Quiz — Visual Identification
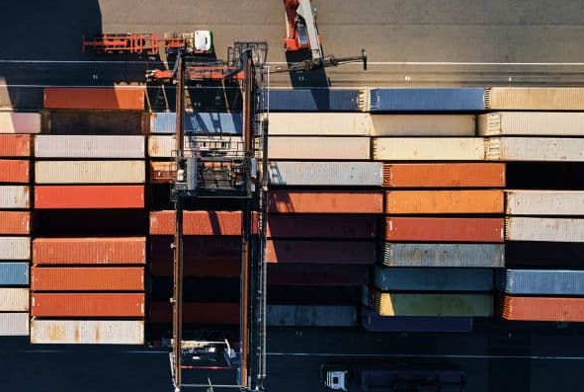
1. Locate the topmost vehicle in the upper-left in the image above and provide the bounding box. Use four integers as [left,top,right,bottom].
[83,28,216,55]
